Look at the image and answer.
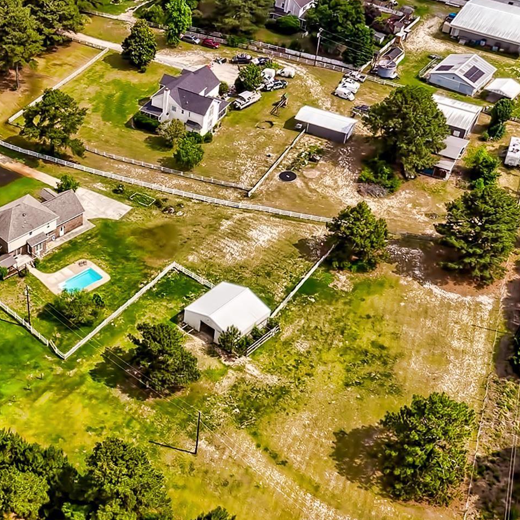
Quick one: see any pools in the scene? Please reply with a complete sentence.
Yes, looking at the shot, I can spot a pool.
